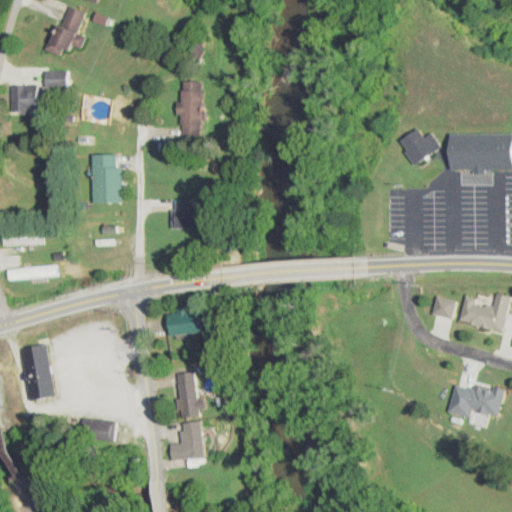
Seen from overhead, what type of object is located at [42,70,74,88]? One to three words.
building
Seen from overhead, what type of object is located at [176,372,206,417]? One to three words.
house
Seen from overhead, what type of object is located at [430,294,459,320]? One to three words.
building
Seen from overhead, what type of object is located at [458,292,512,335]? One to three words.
house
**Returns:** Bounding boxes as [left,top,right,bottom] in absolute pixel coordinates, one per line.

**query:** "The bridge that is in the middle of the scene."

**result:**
[220,256,365,287]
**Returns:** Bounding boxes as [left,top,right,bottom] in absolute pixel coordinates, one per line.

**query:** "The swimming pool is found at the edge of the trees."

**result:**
[82,95,112,124]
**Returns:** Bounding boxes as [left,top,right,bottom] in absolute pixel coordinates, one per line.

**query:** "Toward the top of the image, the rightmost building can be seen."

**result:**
[447,133,512,176]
